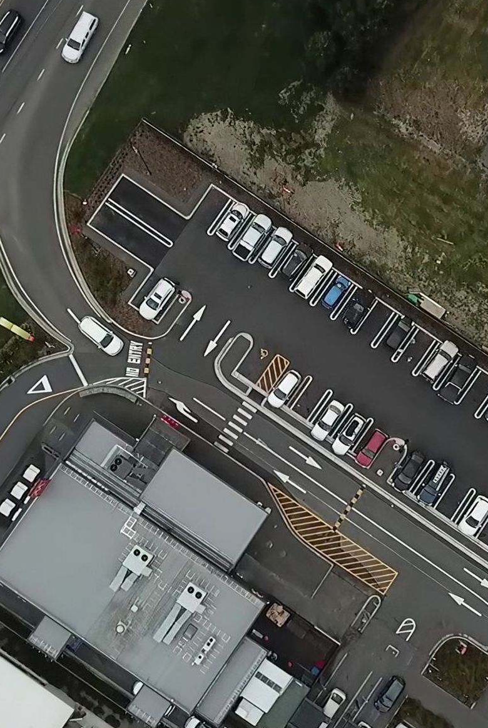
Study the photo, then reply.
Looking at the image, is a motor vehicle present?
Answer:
Yes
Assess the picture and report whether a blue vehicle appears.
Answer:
Yes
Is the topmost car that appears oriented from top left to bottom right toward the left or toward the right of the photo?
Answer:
left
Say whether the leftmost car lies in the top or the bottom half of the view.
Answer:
top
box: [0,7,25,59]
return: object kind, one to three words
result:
car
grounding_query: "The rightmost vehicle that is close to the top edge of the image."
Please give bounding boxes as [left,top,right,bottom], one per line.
[63,8,100,64]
